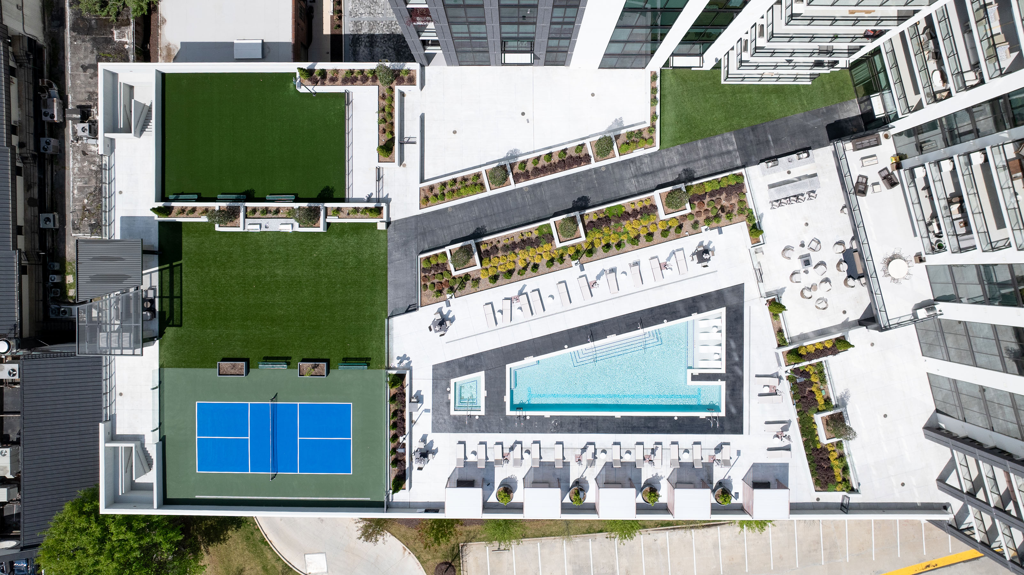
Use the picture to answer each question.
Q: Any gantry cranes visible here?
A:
No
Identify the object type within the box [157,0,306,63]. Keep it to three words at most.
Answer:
building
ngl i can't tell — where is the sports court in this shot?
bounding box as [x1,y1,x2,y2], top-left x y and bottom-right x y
[159,368,387,506]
